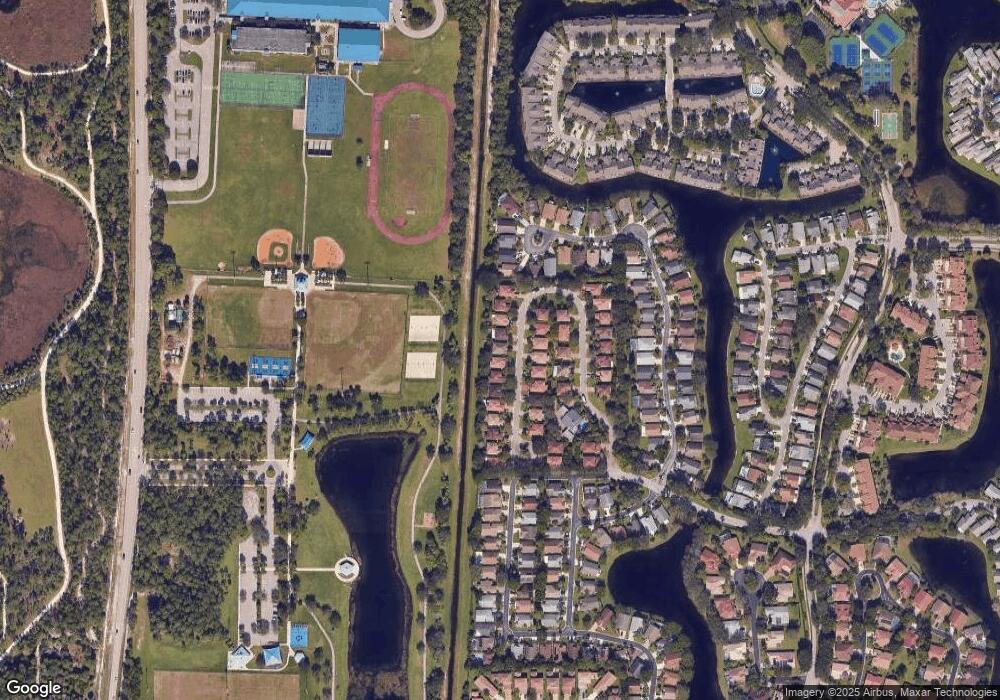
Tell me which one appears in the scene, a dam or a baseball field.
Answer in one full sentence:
There is a baseball field in the scene.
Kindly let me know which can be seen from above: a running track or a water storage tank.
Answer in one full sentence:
The image shows a running track.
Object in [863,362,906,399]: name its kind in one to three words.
building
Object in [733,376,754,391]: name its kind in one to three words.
house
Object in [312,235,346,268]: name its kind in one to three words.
baseball field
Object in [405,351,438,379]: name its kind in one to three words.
sports court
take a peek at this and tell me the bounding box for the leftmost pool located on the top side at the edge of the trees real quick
[747,72,768,98]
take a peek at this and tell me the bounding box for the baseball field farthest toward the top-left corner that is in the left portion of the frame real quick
[256,227,295,266]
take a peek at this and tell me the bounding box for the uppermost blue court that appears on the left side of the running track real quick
[304,75,346,137]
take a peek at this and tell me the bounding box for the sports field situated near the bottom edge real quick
[154,671,299,700]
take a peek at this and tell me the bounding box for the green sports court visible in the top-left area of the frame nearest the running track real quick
[219,70,306,108]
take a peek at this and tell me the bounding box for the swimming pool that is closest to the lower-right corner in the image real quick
[888,350,906,365]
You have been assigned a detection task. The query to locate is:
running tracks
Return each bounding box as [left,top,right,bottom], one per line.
[367,83,453,244]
